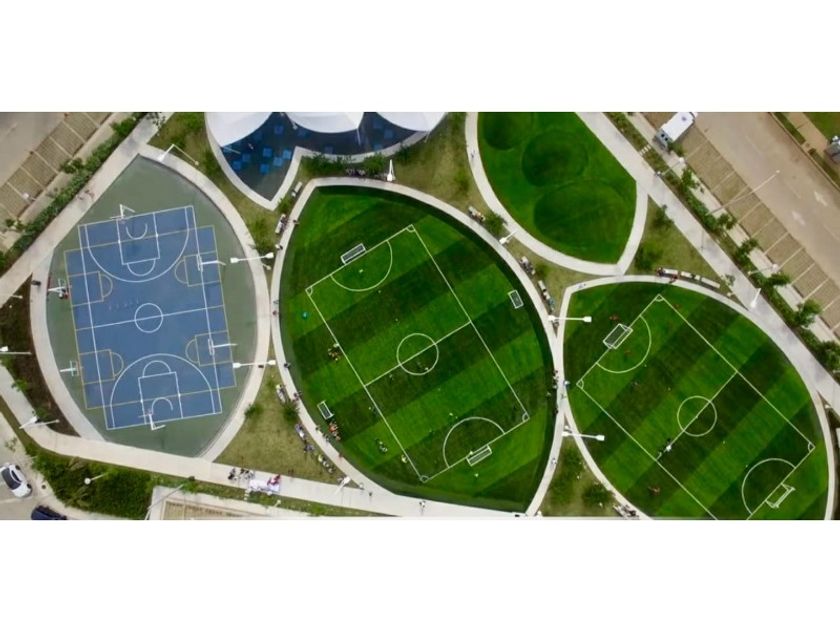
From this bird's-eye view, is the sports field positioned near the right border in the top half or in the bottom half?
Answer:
bottom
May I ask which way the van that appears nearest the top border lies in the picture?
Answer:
at an angle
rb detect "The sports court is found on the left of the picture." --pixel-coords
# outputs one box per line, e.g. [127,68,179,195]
[46,155,257,456]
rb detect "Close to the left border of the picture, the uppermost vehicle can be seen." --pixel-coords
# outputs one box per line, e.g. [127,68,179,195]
[0,464,29,497]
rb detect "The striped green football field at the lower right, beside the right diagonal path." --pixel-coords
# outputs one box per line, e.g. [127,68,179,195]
[564,282,829,561]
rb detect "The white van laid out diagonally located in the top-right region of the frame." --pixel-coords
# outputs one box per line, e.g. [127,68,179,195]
[653,105,699,148]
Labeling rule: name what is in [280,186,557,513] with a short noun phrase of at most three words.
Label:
sports field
